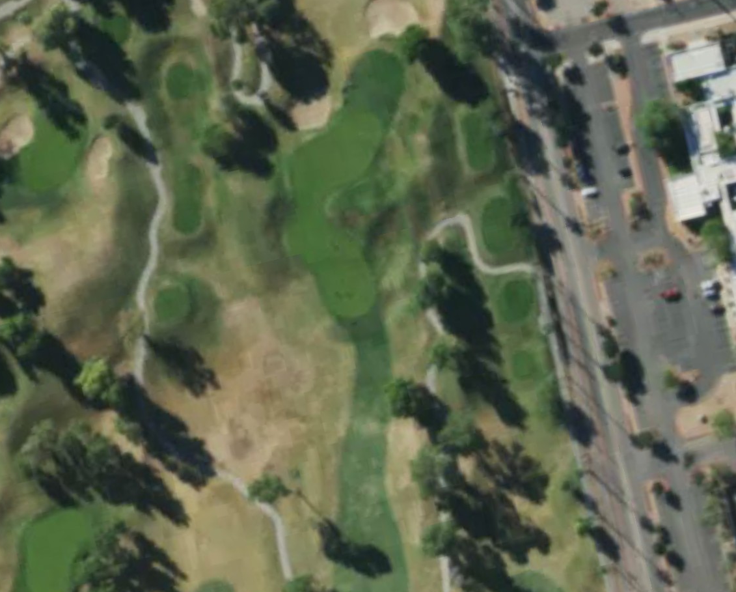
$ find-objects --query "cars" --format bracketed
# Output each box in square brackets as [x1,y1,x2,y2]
[698,280,715,289]
[663,290,678,298]
[617,168,633,177]
[700,288,717,297]
[615,145,631,154]
[580,187,596,196]
[710,304,725,312]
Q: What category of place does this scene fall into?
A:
golf course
